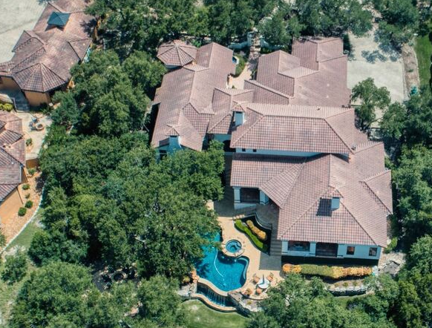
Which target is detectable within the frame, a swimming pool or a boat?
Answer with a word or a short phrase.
swimming pool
